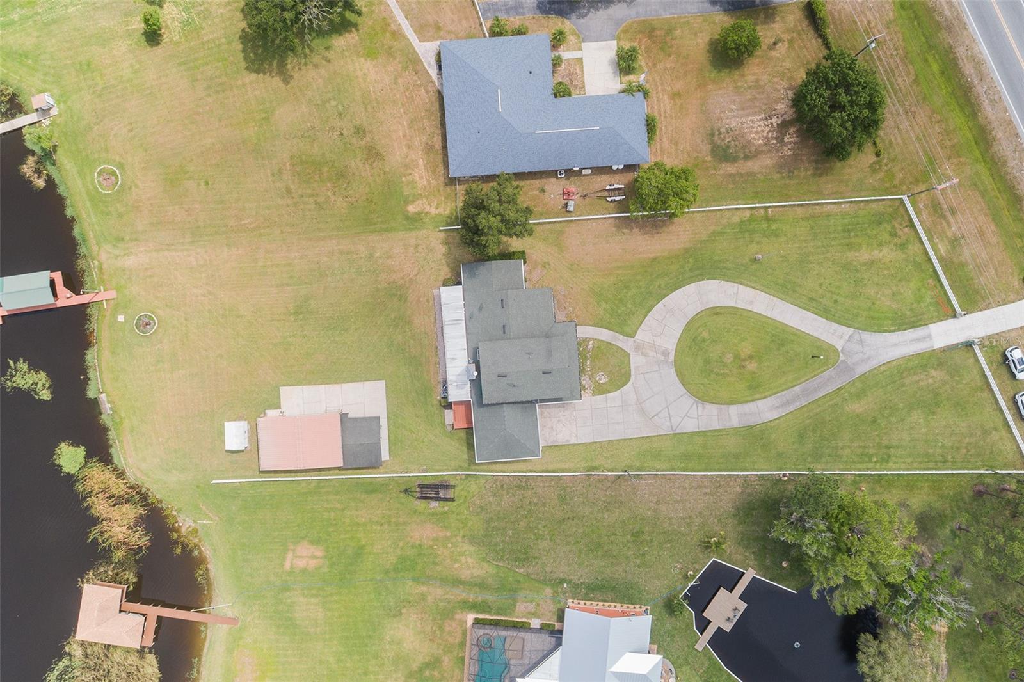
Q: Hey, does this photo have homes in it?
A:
Yes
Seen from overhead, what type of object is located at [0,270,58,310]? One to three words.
building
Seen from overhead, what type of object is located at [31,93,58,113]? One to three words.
shed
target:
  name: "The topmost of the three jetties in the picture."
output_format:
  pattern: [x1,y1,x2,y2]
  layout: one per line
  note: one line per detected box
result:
[0,110,58,136]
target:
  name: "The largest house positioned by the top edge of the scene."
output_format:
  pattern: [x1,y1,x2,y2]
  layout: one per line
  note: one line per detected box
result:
[439,33,650,178]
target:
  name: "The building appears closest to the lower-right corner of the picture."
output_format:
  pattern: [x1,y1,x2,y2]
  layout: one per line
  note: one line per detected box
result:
[515,607,662,682]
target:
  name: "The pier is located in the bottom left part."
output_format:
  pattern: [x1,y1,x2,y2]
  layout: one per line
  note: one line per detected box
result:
[100,582,238,647]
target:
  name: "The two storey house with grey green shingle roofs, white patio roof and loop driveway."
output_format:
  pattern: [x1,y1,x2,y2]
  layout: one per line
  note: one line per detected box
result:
[439,260,581,463]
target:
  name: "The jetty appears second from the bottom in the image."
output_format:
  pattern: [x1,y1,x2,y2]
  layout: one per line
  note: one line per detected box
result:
[0,271,117,325]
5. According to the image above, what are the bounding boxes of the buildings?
[76,583,148,649]
[257,413,383,472]
[439,33,650,178]
[0,270,58,310]
[225,420,253,451]
[515,607,662,682]
[439,260,581,463]
[31,93,58,113]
